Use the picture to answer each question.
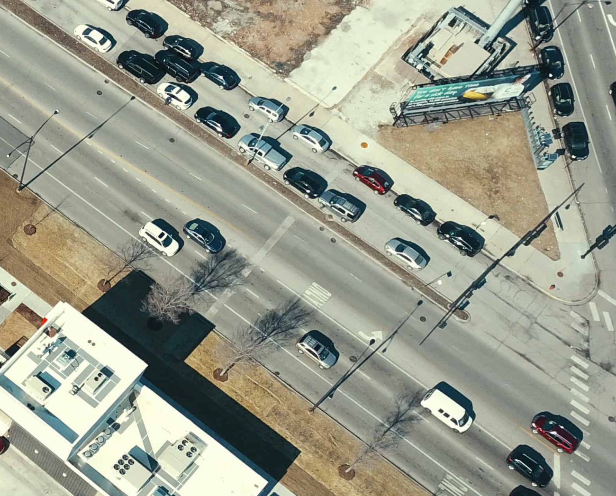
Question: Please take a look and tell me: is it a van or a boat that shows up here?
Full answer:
Looking from above, you can make out a van.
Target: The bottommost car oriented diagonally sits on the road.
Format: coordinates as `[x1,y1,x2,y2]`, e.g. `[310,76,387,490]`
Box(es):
[506,450,551,487]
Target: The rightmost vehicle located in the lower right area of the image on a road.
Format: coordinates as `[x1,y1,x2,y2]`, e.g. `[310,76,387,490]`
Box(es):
[531,420,580,455]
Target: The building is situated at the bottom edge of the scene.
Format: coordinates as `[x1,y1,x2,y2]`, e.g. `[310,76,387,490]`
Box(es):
[0,298,263,496]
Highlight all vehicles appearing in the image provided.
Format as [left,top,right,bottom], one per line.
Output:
[295,333,336,367]
[506,450,551,487]
[319,189,358,219]
[194,112,236,140]
[540,47,563,79]
[248,99,285,124]
[282,169,325,198]
[423,389,471,430]
[384,241,428,269]
[118,57,160,84]
[158,56,198,84]
[393,198,432,225]
[531,420,580,455]
[137,223,178,256]
[90,0,124,11]
[182,223,223,253]
[563,123,589,161]
[530,9,552,41]
[293,129,333,155]
[126,14,162,40]
[162,38,195,62]
[352,169,389,194]
[200,66,237,91]
[73,28,113,53]
[156,86,193,111]
[551,85,575,117]
[607,82,616,117]
[436,225,482,257]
